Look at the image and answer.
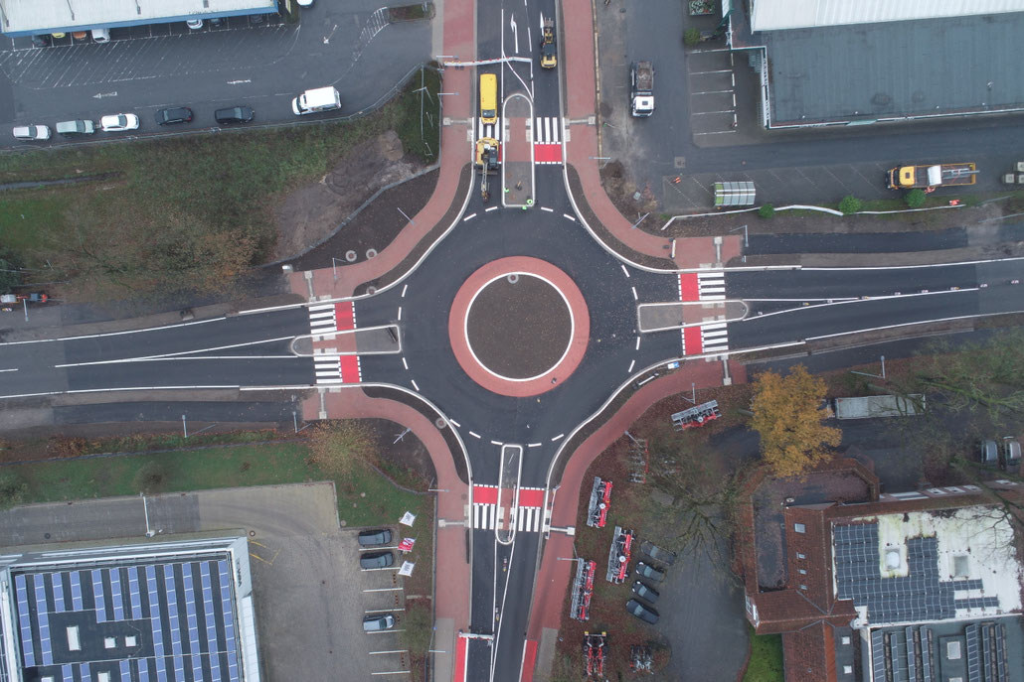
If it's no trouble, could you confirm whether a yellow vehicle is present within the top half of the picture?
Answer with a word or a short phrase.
Yes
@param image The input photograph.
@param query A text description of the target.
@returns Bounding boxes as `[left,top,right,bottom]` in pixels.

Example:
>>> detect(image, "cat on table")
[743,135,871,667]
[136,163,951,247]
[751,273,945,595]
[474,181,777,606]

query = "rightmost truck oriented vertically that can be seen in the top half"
[630,62,656,120]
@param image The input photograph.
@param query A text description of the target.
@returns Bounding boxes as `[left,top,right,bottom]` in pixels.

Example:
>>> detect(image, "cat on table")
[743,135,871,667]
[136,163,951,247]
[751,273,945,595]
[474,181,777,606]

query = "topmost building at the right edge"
[724,0,1024,137]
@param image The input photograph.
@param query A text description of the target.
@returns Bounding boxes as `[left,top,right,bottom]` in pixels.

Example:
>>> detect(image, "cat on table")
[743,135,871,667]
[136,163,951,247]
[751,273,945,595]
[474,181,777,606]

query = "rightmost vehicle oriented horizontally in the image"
[881,163,979,190]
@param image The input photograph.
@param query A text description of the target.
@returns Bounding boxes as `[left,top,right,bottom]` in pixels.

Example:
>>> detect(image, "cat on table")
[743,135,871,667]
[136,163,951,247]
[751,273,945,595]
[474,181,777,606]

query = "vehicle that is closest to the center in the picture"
[477,138,498,199]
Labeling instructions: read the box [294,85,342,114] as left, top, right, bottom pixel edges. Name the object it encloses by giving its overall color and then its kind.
white van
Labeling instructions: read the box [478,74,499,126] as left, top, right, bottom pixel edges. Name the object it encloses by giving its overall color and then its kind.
yellow vehicle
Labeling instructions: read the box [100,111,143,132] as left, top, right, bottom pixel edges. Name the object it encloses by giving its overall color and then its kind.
white car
